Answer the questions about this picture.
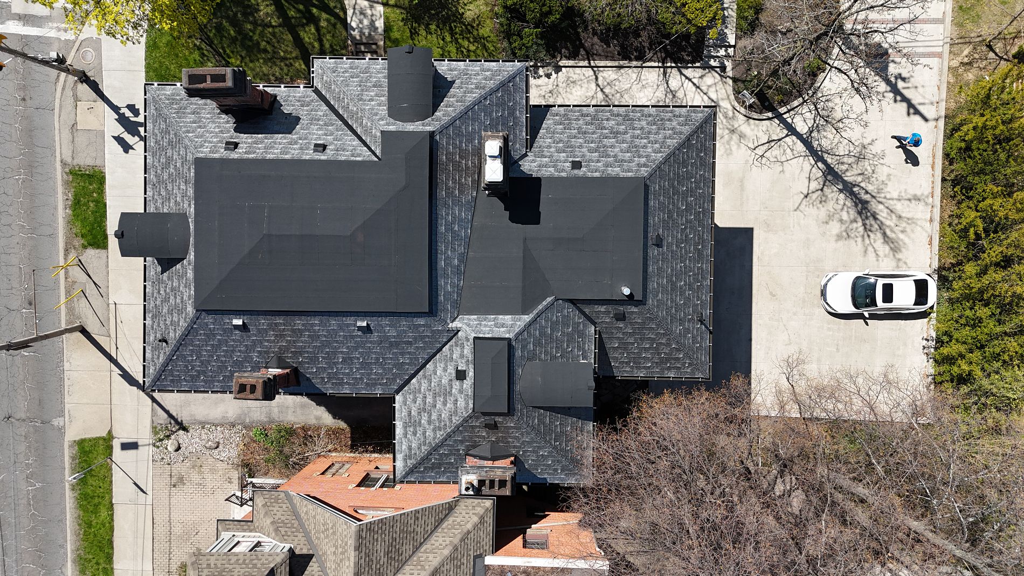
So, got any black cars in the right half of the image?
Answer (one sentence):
No, the scene shows no black car in the right half of the image.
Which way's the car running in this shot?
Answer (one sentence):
In this picture, the car lies from left to right.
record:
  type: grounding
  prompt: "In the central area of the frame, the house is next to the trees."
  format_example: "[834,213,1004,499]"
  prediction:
[113,43,717,497]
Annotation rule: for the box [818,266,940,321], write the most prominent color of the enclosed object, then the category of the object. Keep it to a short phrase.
white car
